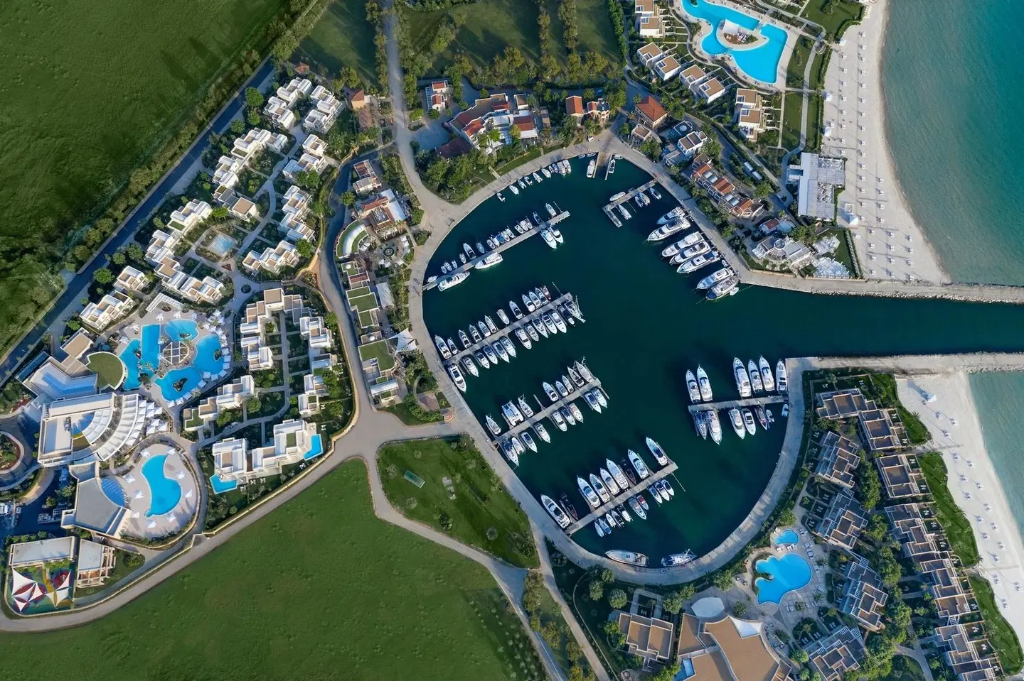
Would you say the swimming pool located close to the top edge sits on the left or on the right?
right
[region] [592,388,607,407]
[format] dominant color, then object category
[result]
white boat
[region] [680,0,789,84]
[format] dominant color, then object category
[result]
blue swimming pool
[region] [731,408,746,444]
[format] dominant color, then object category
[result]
white boat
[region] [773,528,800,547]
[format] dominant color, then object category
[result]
blue swimming pool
